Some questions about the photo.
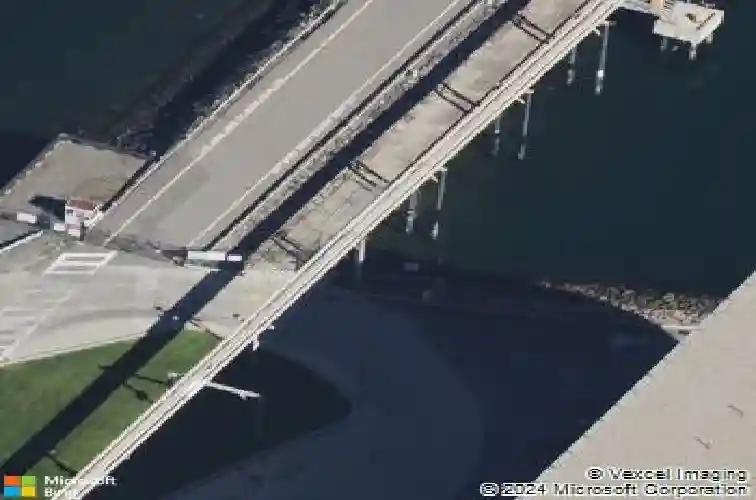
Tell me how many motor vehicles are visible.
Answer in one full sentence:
The picture shows no motor vehicles.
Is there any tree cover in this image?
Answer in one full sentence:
No, there's no tree cover in this view.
